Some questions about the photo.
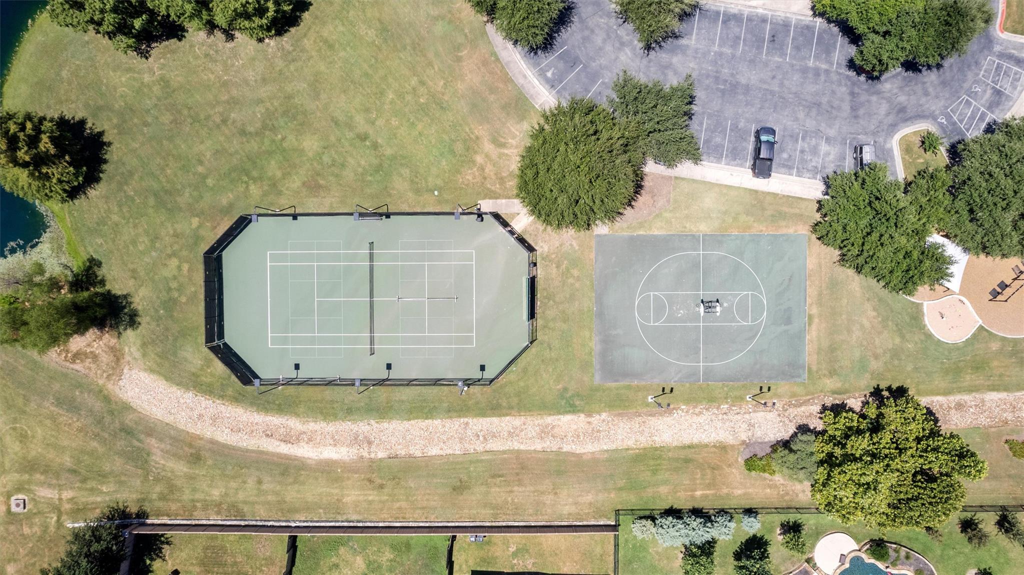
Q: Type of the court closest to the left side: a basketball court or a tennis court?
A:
tennis court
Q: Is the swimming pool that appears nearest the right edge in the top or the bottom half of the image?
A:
bottom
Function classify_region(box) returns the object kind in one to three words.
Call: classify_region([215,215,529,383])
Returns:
tennis court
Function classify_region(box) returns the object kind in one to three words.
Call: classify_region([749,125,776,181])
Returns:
truck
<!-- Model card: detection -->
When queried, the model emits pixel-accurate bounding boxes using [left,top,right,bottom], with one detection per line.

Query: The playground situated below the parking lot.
[889,209,1024,338]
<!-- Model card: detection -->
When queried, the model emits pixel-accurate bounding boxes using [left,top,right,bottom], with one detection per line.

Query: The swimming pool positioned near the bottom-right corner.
[843,552,912,575]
